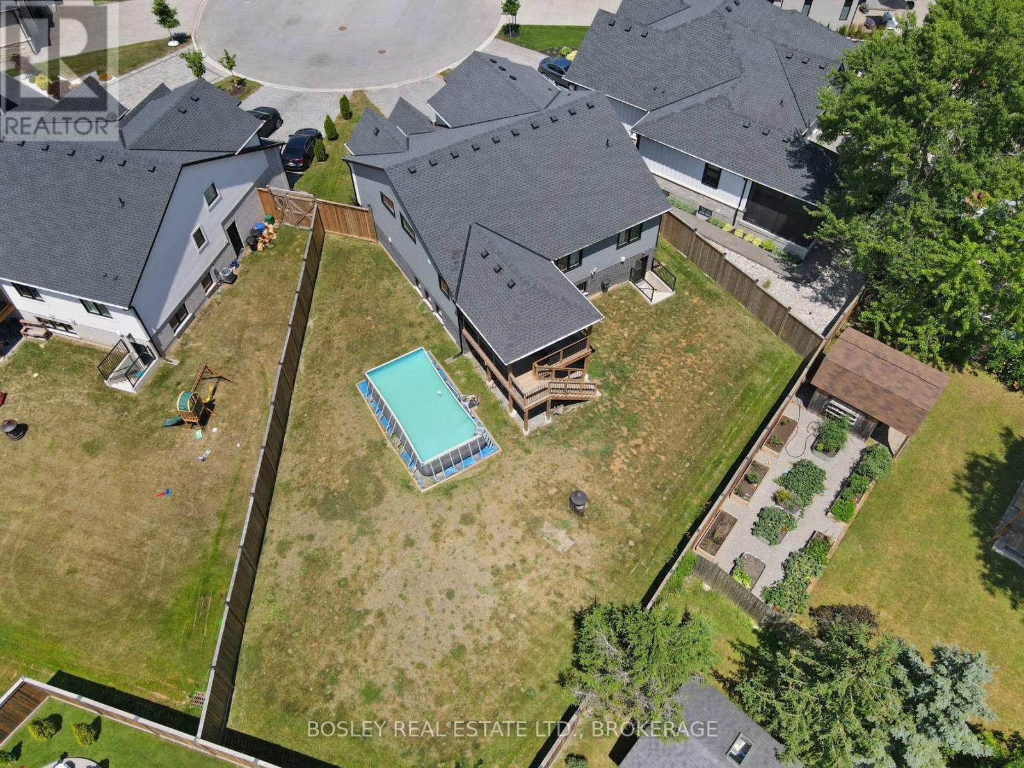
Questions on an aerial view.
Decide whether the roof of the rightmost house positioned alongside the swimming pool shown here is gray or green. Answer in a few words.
gray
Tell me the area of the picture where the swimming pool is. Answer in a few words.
center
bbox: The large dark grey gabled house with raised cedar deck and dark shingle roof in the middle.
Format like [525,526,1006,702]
[341,50,677,373]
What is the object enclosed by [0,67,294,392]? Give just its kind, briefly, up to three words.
house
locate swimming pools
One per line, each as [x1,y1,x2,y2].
[363,345,488,480]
